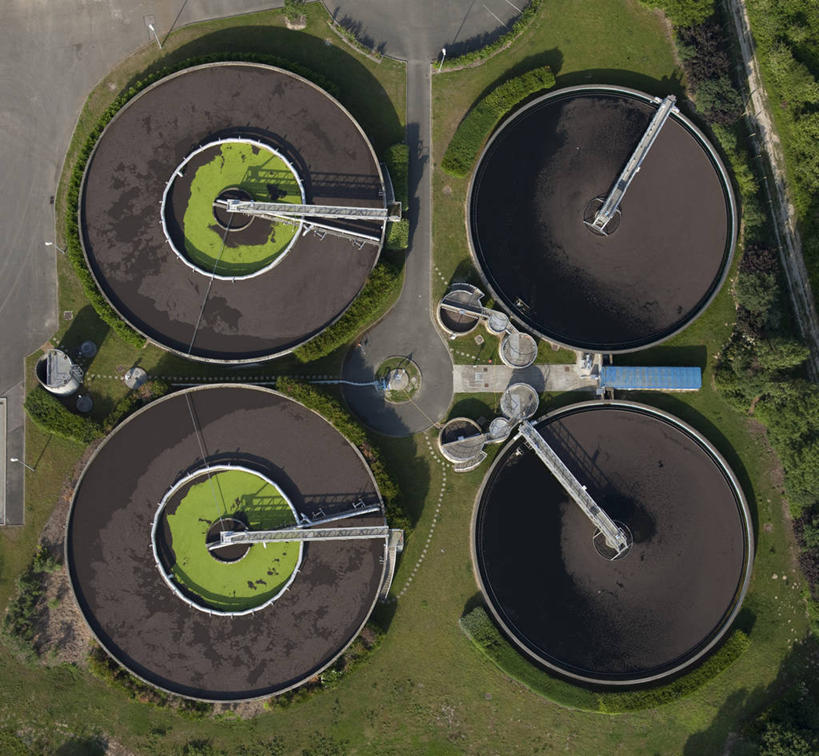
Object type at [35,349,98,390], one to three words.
silo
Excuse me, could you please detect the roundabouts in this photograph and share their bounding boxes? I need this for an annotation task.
[341,252,454,437]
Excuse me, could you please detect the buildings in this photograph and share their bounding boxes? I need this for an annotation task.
[600,366,701,394]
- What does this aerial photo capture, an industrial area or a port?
industrial area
